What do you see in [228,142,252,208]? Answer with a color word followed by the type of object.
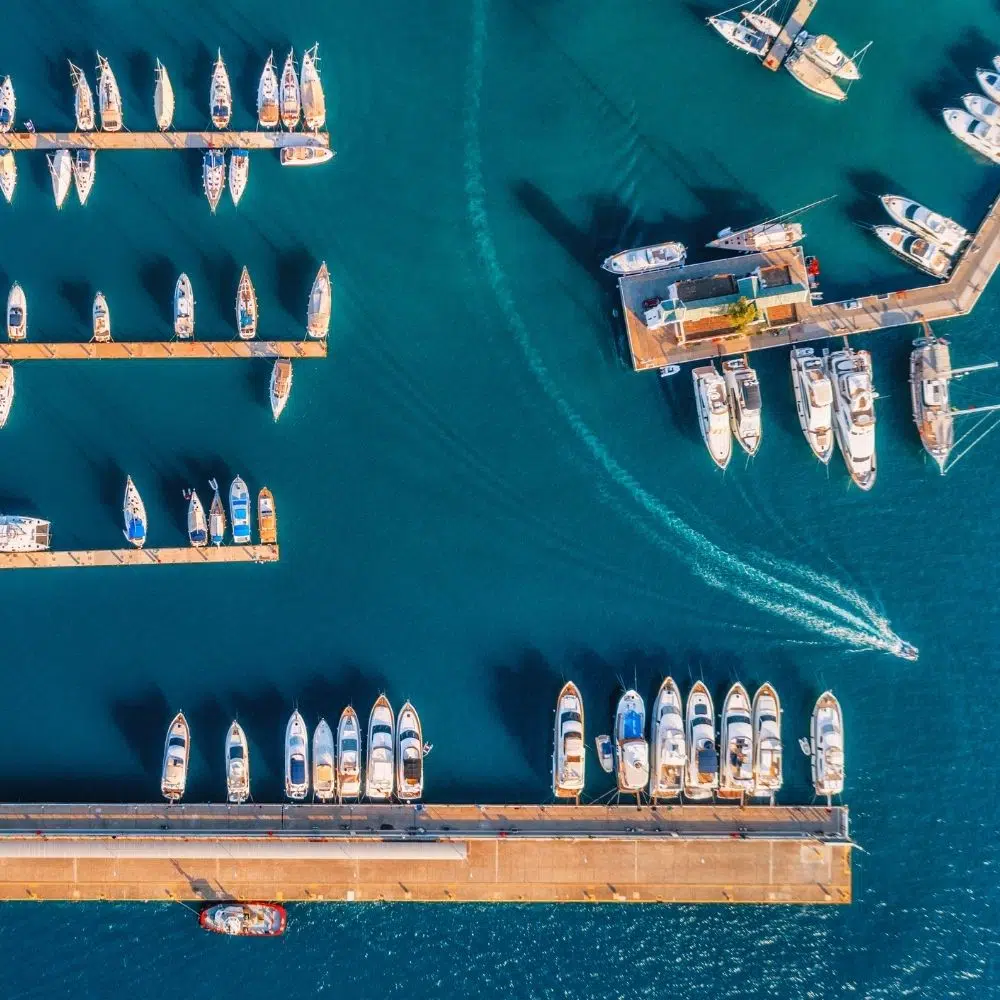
white boat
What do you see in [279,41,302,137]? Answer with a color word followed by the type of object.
white boat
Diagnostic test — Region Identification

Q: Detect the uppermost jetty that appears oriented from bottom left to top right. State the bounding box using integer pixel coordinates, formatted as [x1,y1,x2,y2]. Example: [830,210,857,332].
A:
[761,0,816,72]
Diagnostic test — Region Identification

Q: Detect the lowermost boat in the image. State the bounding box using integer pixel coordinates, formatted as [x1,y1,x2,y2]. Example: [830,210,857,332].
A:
[174,898,290,938]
